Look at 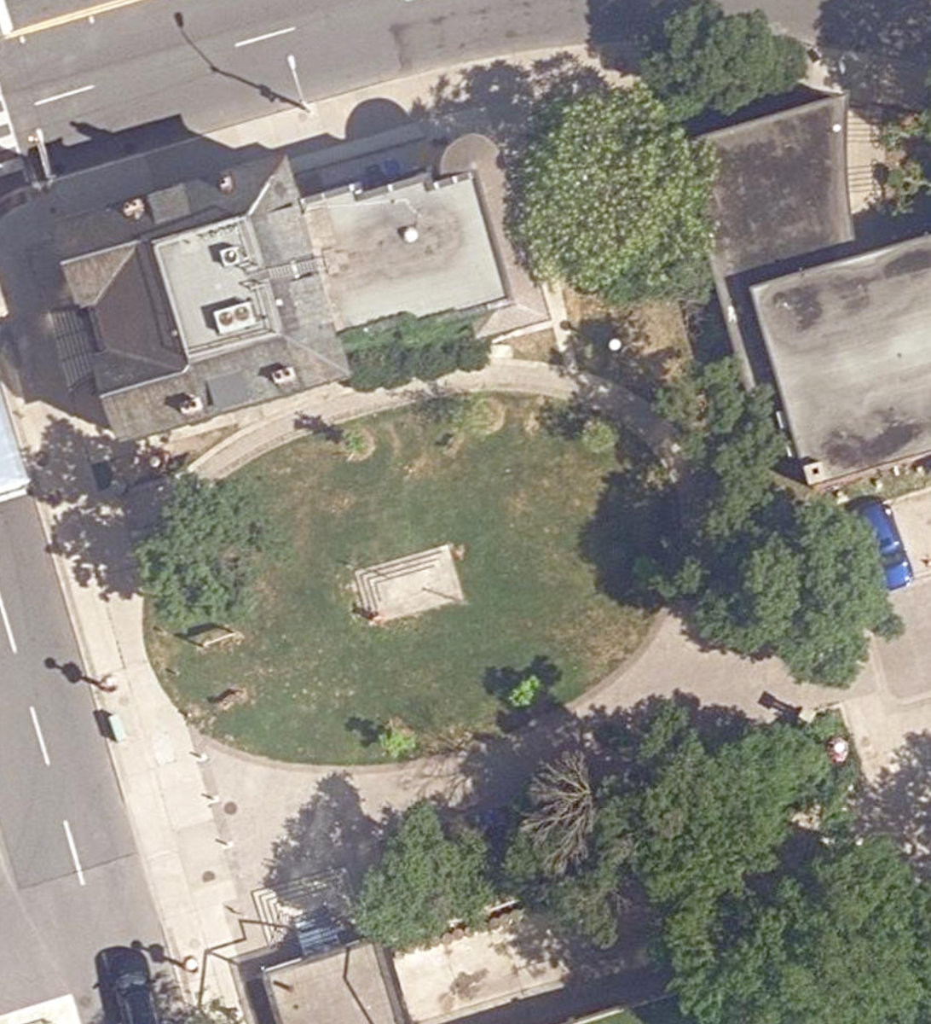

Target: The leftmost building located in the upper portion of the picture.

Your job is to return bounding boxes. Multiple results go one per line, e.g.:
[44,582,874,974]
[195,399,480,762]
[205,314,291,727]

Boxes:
[51,155,351,442]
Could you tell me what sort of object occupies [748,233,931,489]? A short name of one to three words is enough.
building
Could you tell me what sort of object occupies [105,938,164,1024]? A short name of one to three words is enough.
car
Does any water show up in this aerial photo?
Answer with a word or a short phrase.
No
